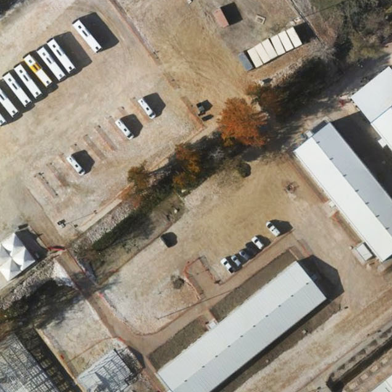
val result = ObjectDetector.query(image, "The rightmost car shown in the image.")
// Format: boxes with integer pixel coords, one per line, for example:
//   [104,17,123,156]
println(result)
[267,221,280,236]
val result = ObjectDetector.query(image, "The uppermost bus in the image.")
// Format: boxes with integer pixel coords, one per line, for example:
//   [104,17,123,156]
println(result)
[69,17,101,53]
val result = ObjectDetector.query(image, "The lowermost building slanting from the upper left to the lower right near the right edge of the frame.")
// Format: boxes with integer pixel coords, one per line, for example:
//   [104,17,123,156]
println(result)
[294,123,392,261]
